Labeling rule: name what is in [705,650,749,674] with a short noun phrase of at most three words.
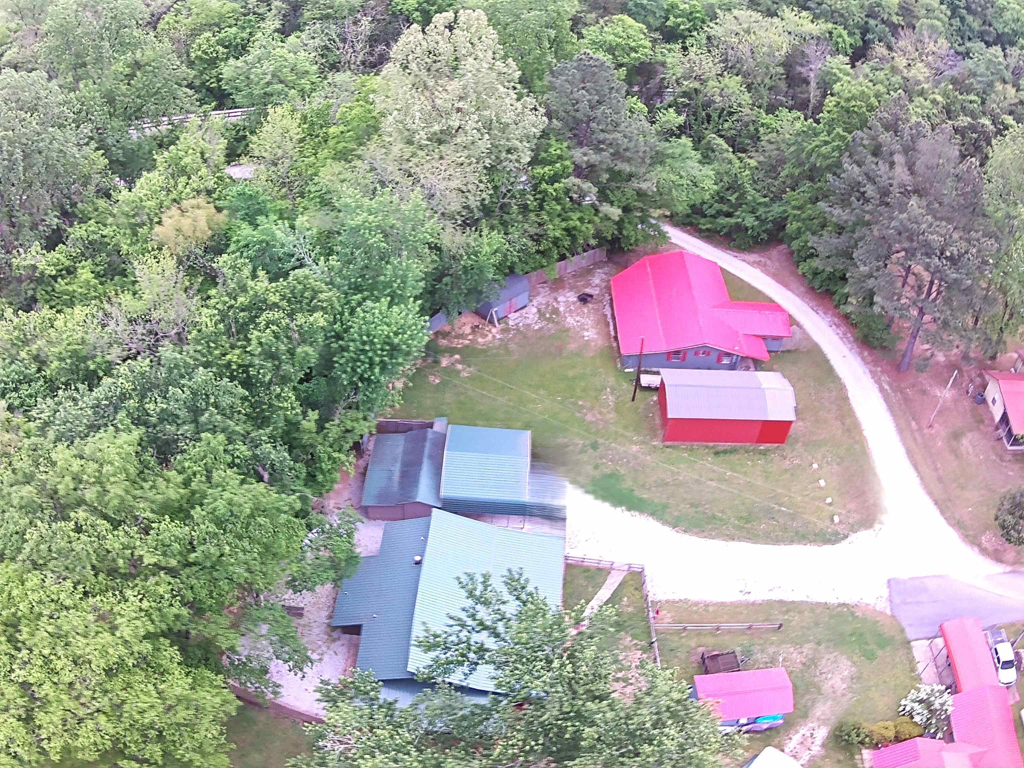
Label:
trailer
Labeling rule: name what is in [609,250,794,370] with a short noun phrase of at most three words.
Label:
house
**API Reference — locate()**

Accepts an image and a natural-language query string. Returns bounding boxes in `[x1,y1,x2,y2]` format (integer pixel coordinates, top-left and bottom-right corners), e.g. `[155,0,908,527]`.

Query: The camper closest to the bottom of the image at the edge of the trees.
[759,744,809,768]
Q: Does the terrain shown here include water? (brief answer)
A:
No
